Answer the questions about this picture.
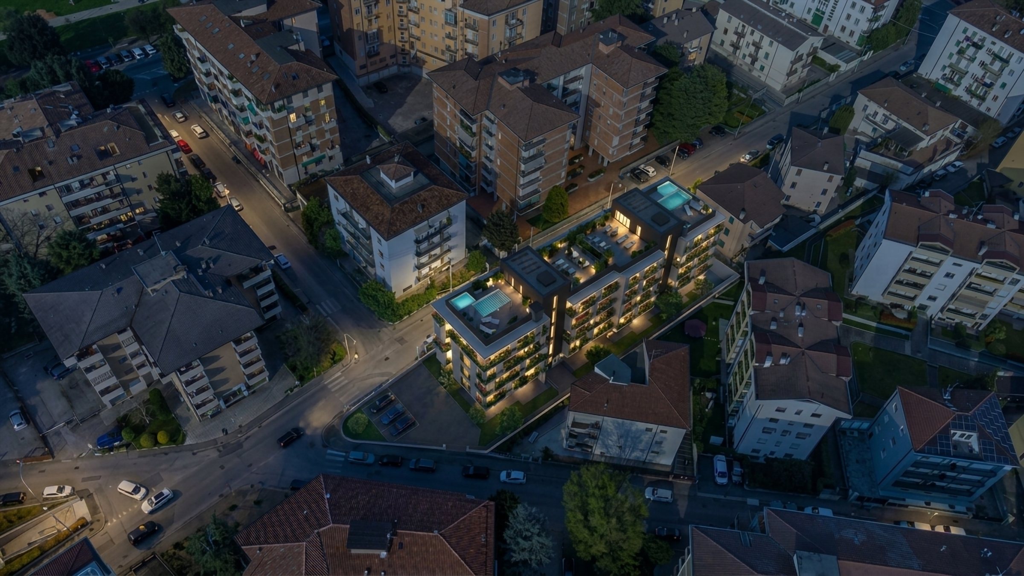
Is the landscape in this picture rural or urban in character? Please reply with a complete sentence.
From above, the setting appears urban.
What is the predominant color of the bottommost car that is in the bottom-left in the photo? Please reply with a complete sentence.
The bottommost car that is in the bottom-left is black.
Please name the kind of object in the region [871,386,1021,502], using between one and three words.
house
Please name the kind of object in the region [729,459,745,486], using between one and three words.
car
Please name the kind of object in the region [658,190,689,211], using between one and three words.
swimming pool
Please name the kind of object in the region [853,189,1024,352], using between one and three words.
building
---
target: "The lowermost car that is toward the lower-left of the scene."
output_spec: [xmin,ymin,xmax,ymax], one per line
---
[126,519,160,545]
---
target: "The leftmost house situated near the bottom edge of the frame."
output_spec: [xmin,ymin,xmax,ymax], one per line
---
[30,536,115,576]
